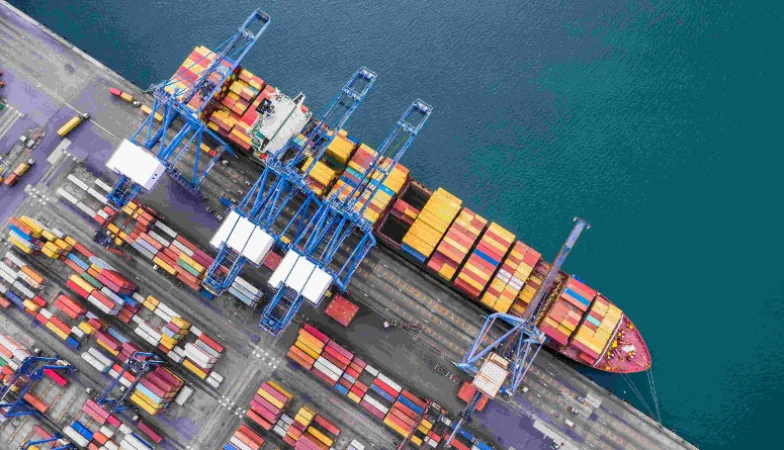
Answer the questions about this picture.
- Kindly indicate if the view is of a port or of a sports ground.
port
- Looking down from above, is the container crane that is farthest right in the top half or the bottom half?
bottom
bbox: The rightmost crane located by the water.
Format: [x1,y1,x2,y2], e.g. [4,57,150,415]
[441,212,590,449]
